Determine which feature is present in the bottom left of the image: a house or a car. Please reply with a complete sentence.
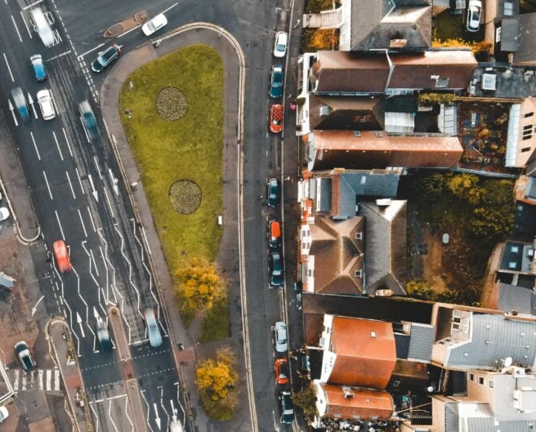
There is a car in the bottom left of the image.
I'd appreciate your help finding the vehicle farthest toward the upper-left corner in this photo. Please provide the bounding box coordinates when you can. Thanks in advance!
[30,8,57,49]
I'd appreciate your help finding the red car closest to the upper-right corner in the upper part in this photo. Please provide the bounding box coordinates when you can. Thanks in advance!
[268,104,284,132]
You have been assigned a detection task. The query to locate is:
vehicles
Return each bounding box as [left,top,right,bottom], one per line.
[15,342,38,372]
[0,273,18,291]
[0,404,11,423]
[29,54,48,83]
[267,220,283,248]
[268,251,285,286]
[11,87,30,123]
[140,10,170,38]
[142,308,162,348]
[272,31,287,58]
[90,42,122,74]
[0,207,11,222]
[30,8,57,49]
[51,238,71,271]
[168,419,183,432]
[272,321,289,352]
[267,65,284,98]
[94,317,114,353]
[268,104,284,132]
[266,176,280,208]
[274,357,289,384]
[463,0,479,32]
[37,88,57,122]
